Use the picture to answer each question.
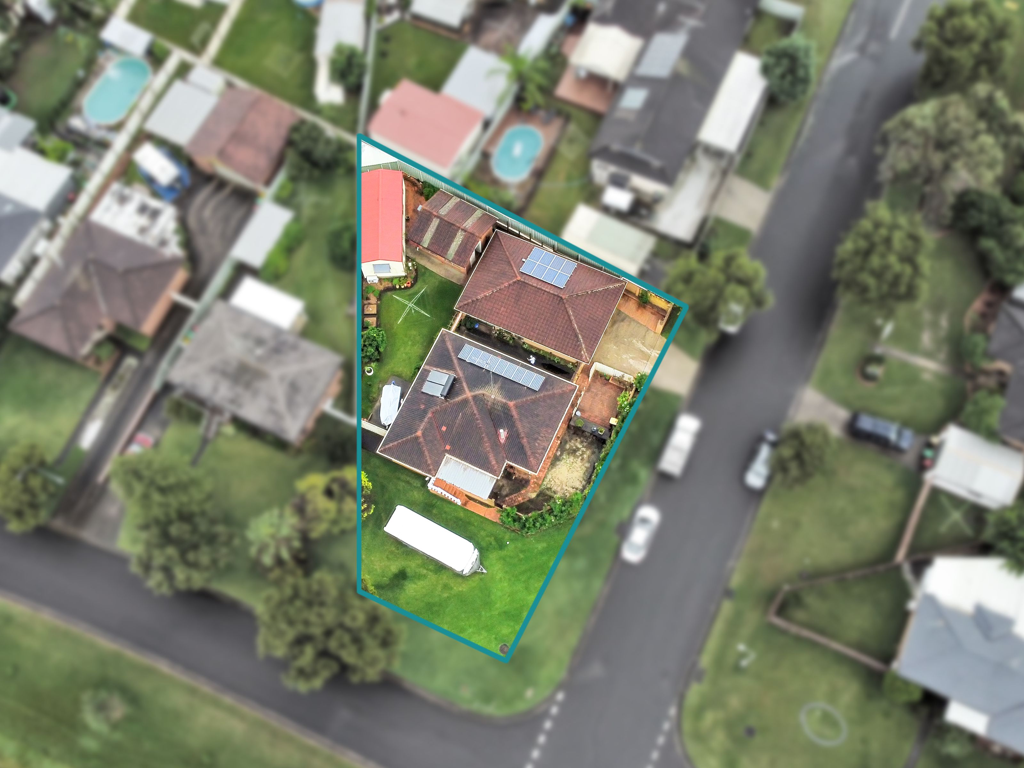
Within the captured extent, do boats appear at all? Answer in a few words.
Yes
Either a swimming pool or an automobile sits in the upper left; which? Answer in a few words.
swimming pool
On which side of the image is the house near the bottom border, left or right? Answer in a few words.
right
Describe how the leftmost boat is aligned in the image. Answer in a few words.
on a diagonal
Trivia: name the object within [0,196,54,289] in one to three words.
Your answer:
house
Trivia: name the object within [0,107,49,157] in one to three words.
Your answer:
shed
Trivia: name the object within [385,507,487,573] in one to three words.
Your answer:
camper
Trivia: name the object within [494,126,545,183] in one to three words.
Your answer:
swimming pool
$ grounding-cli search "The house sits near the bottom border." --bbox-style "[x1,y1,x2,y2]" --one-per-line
[888,588,1024,759]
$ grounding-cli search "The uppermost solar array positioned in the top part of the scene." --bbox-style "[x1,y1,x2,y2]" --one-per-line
[520,248,577,289]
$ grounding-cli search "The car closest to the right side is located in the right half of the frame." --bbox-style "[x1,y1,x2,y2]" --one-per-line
[850,413,913,453]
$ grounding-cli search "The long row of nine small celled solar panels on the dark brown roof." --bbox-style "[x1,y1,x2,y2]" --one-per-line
[458,344,545,391]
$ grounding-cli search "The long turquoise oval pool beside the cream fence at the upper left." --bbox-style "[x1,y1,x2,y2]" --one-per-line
[84,60,155,122]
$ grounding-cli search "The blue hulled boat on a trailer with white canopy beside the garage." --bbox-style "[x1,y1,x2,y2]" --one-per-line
[128,139,185,197]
